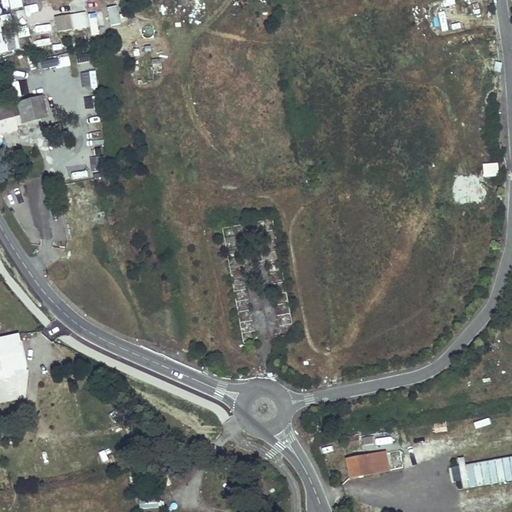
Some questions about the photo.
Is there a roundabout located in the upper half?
No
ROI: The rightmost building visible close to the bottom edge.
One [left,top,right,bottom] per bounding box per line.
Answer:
[466,454,512,489]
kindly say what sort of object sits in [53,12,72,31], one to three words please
shed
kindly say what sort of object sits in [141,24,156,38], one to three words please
swimming pool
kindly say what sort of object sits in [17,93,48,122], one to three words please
house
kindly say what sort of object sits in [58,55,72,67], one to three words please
vehicle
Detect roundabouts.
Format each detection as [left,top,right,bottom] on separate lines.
[196,374,318,466]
